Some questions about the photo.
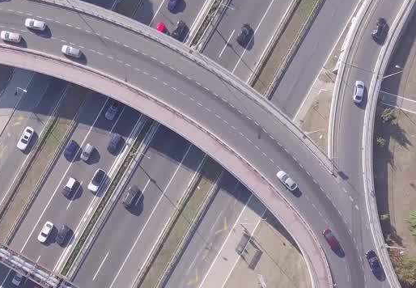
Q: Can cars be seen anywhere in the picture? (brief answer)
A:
Yes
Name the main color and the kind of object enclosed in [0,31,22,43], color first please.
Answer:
white vehicle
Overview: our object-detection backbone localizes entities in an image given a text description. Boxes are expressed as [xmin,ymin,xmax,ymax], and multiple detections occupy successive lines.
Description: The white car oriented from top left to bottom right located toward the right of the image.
[276,170,297,191]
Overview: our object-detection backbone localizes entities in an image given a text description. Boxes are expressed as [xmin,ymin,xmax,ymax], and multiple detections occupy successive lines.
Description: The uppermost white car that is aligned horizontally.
[24,18,46,31]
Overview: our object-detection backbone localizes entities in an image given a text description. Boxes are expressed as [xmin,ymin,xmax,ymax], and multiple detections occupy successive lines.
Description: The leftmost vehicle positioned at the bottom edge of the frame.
[11,274,24,288]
